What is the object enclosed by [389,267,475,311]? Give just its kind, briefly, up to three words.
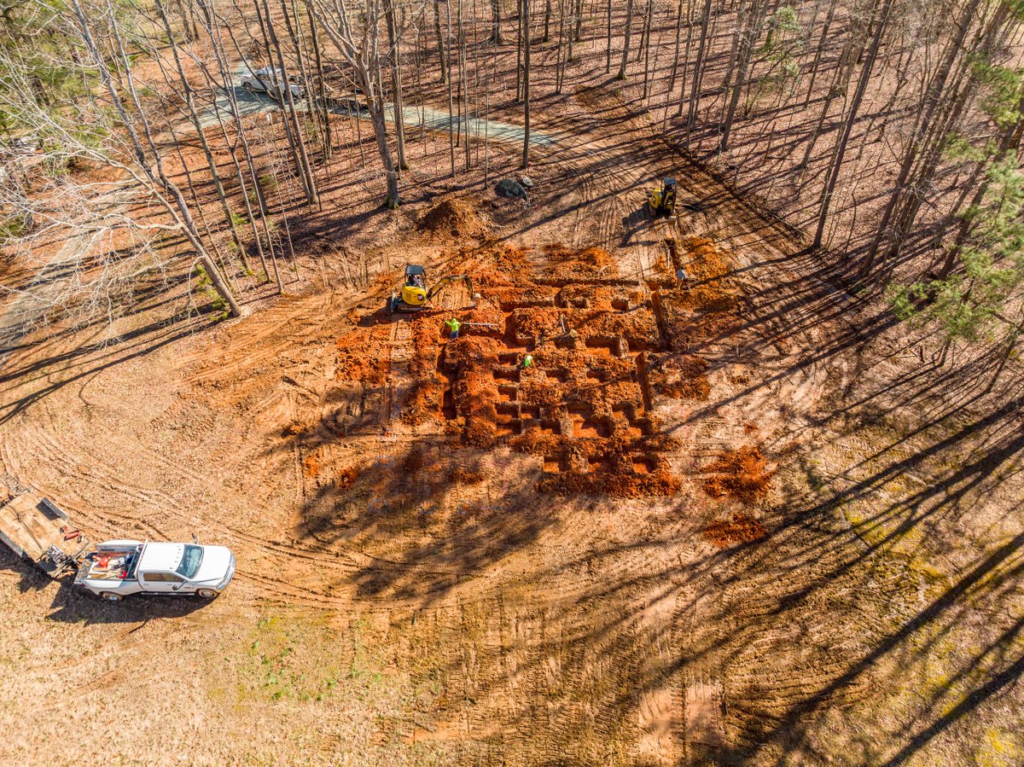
work vehicle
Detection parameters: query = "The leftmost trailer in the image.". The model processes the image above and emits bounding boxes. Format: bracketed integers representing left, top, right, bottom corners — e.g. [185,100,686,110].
[0,470,93,577]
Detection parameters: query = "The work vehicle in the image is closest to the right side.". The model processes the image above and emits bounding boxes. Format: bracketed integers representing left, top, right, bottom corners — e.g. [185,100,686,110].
[647,178,678,223]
